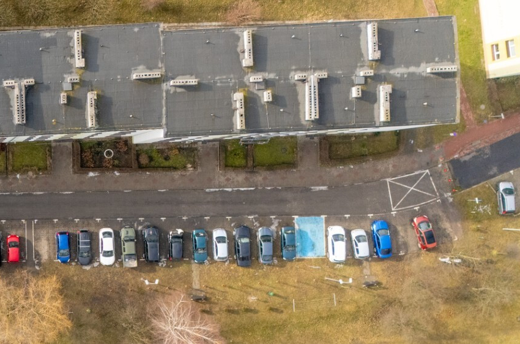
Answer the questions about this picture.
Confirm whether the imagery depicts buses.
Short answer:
No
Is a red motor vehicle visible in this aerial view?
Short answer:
Yes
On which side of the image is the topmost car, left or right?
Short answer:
right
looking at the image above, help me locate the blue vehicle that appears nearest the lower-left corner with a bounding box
[55,231,72,263]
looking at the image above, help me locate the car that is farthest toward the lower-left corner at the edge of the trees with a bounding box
[6,234,22,262]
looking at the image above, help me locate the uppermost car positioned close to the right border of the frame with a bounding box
[496,181,518,215]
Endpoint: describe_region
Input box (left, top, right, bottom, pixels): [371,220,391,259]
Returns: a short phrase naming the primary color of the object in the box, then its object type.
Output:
blue car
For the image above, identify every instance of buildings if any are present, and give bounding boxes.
[479,0,520,78]
[0,16,459,152]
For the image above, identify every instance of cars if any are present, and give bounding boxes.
[99,228,116,265]
[6,234,22,262]
[233,225,253,265]
[191,229,209,263]
[76,229,93,265]
[211,228,230,261]
[371,220,391,259]
[55,231,72,263]
[256,227,275,263]
[119,227,138,267]
[496,181,518,215]
[412,215,436,251]
[279,225,298,260]
[168,229,186,260]
[349,228,370,259]
[142,225,161,262]
[326,225,347,262]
